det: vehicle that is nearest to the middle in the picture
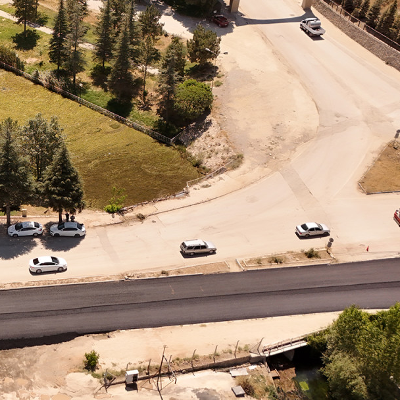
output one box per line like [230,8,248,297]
[179,239,218,256]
